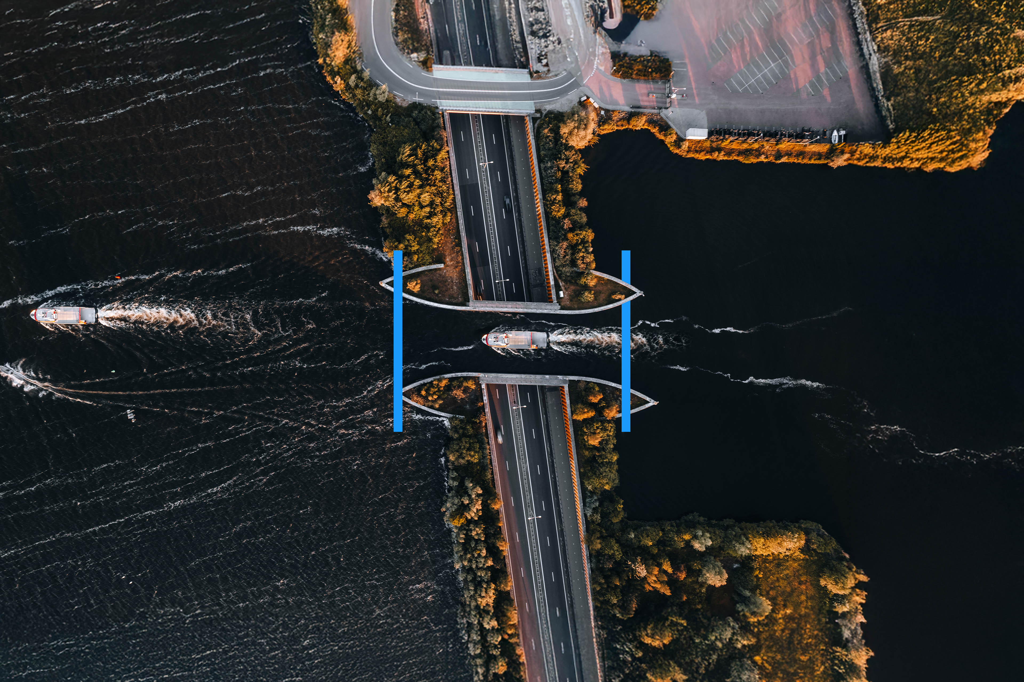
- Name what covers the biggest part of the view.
water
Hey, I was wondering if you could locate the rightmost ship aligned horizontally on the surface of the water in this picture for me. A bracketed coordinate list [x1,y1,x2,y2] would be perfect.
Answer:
[481,331,549,349]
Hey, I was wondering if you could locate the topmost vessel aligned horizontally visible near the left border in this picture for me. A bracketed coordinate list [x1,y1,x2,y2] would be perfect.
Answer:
[27,306,101,325]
